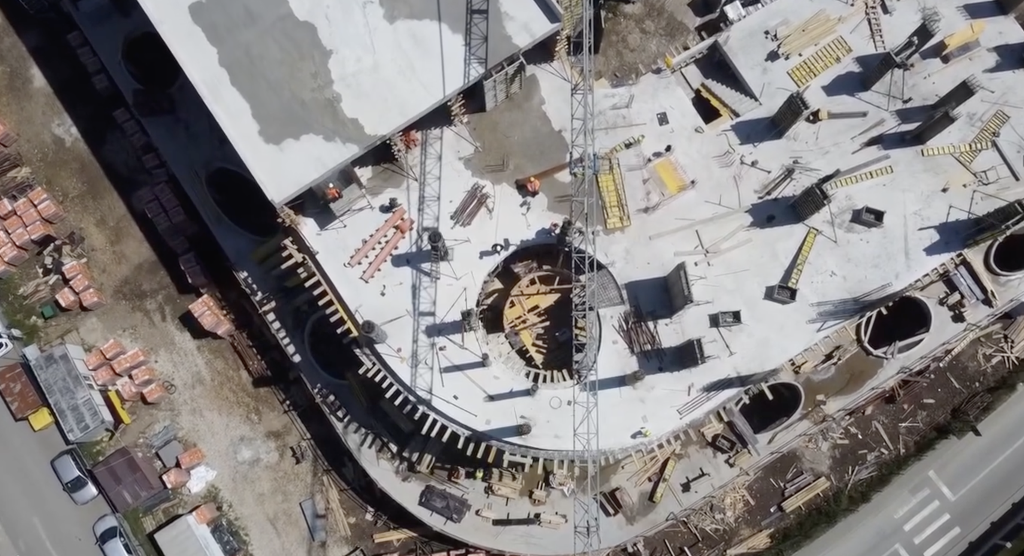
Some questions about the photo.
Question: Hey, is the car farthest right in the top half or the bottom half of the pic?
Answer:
bottom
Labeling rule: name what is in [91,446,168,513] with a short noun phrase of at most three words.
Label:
shed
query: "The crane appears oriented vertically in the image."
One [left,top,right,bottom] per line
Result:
[571,0,600,556]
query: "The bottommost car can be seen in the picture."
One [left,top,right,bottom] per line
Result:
[94,515,144,556]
